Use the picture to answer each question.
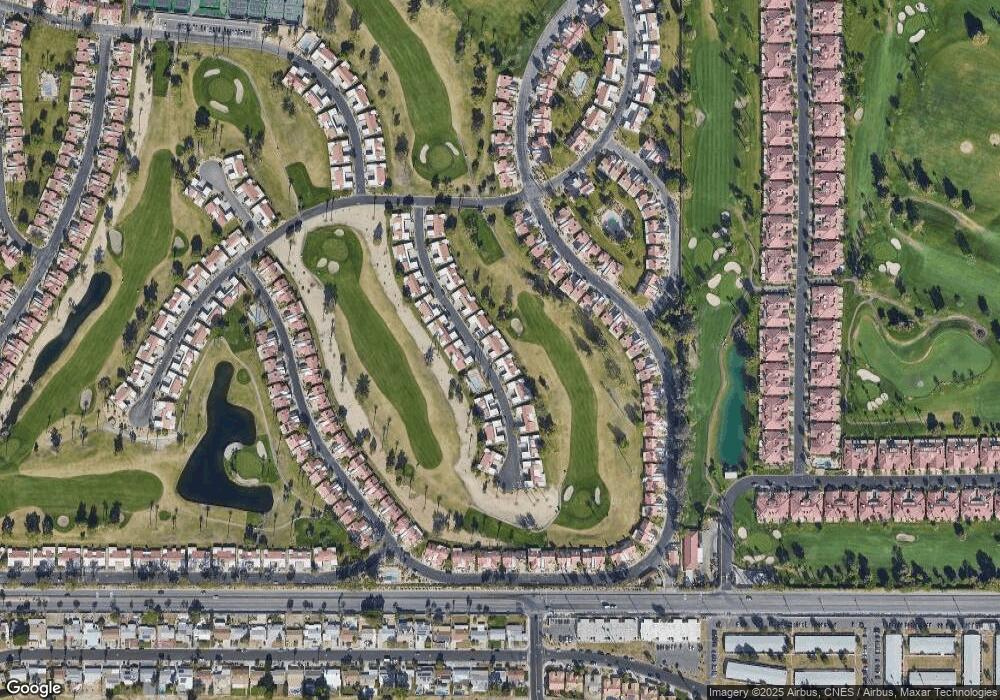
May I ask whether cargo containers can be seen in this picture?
No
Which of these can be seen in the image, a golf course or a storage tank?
golf course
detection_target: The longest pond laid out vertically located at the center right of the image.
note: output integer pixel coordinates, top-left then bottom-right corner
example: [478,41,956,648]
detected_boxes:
[720,340,748,466]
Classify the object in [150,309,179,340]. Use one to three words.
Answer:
house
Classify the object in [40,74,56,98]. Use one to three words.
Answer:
swimming pool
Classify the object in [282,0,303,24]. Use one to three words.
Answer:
tennis court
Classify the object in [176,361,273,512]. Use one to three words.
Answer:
pond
